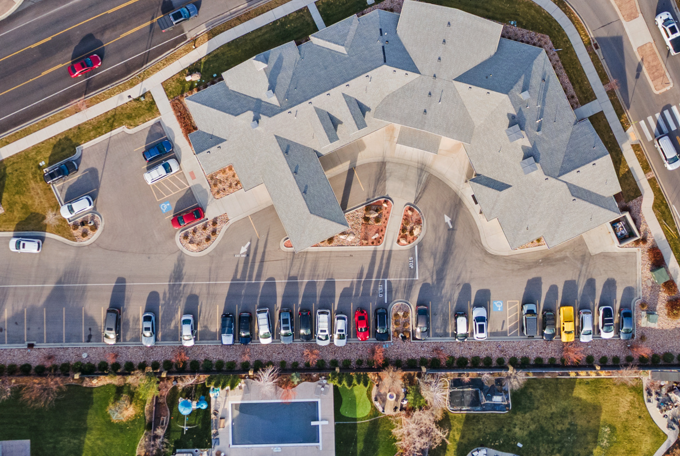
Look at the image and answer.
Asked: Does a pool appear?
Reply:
Yes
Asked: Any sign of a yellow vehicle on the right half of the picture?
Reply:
Yes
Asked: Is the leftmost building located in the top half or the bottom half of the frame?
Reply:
top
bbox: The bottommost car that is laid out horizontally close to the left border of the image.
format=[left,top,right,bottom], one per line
[9,237,42,254]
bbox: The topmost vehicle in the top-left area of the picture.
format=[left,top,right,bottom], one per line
[156,3,199,29]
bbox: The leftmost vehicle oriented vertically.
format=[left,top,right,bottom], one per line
[102,308,121,345]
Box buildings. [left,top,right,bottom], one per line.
[646,367,680,382]
[187,0,621,254]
